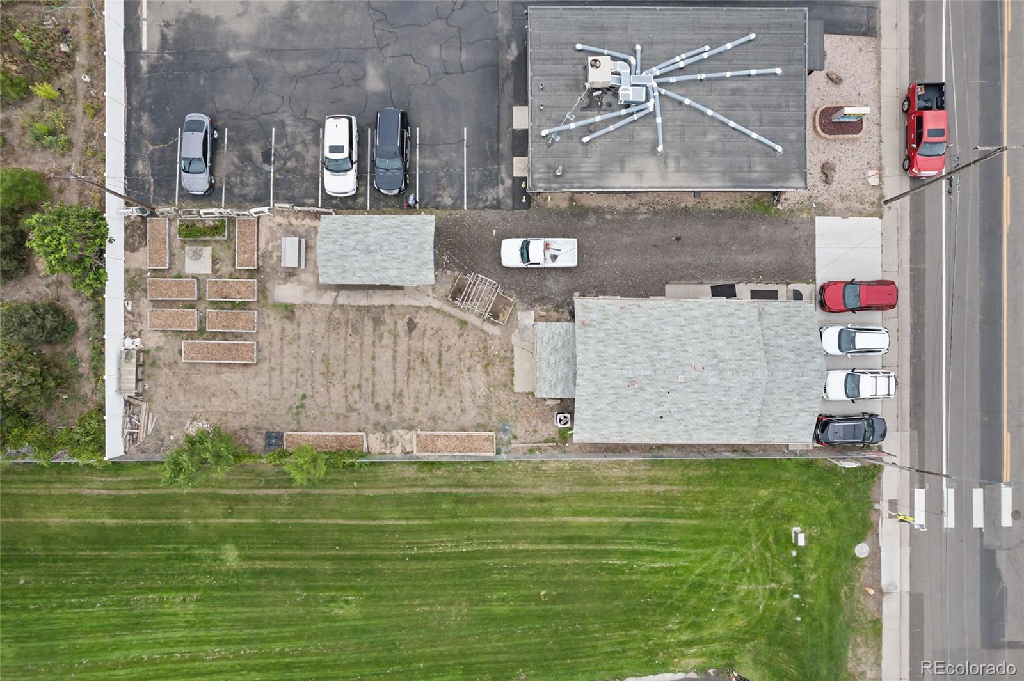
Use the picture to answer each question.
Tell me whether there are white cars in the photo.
Yes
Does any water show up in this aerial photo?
No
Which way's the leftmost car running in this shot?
up and down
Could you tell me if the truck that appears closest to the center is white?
Yes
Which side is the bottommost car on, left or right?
right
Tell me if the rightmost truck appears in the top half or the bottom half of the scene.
top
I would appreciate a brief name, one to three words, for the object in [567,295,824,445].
house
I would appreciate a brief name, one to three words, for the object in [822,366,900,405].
car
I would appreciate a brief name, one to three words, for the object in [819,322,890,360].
car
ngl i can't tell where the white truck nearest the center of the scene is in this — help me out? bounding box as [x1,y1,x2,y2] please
[501,233,578,271]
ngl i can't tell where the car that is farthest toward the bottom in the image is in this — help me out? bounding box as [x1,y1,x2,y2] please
[814,411,889,451]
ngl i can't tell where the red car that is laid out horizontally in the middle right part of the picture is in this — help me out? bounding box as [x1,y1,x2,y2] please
[818,276,898,316]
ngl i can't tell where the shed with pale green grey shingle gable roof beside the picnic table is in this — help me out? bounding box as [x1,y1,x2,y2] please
[315,211,436,287]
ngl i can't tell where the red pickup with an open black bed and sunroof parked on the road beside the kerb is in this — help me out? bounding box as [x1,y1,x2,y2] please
[898,82,955,179]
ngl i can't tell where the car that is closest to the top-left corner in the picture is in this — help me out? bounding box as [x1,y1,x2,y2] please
[174,113,216,196]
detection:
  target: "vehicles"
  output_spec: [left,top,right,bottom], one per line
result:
[822,366,900,405]
[818,276,898,316]
[174,113,216,196]
[814,411,889,451]
[898,82,955,179]
[318,115,359,197]
[369,105,409,196]
[819,322,890,360]
[501,233,578,271]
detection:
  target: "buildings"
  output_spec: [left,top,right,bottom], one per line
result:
[523,7,825,194]
[315,211,436,287]
[567,295,824,445]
